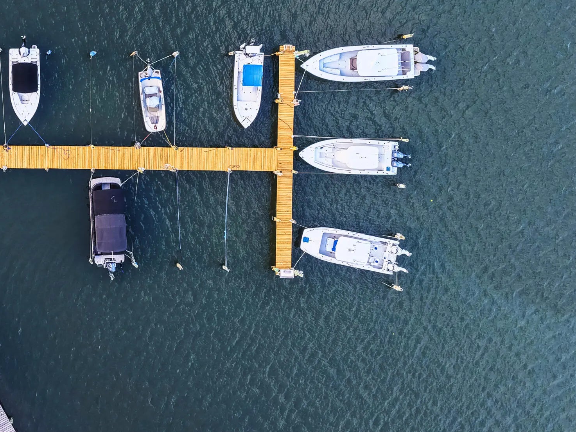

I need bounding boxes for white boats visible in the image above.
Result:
[231,39,265,128]
[297,42,436,83]
[295,139,415,174]
[9,33,40,126]
[139,56,166,132]
[299,227,413,274]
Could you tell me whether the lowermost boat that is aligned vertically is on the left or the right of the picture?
left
